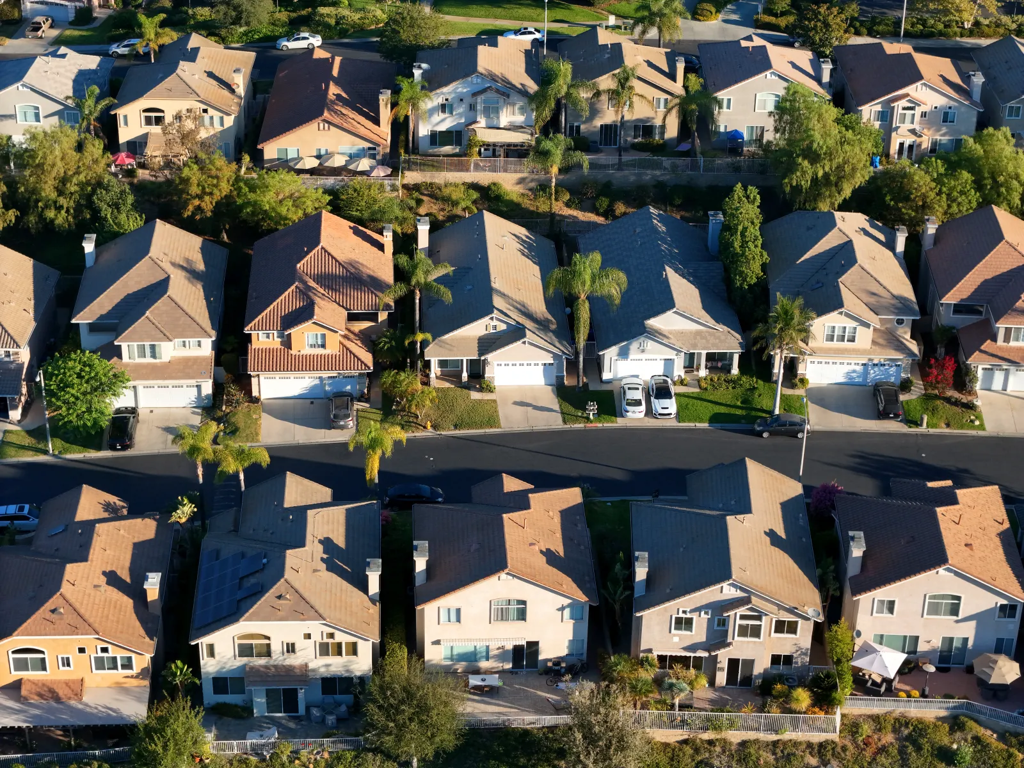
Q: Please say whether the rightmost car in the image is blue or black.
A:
black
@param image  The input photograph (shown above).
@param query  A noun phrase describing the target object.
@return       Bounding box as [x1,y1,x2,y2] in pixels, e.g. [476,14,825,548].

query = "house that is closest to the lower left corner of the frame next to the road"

[0,483,178,762]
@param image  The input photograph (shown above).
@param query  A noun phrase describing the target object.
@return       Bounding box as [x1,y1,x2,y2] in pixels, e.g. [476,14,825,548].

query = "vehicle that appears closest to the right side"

[875,380,905,421]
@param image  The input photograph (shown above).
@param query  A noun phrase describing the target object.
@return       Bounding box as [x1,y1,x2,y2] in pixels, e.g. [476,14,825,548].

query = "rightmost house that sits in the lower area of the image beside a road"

[829,461,1024,663]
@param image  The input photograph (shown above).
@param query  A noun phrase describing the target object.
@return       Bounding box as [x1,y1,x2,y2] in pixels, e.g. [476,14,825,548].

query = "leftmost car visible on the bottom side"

[0,503,32,533]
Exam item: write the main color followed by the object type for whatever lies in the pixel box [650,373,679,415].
white car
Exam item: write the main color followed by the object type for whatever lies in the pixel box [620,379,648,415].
white car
